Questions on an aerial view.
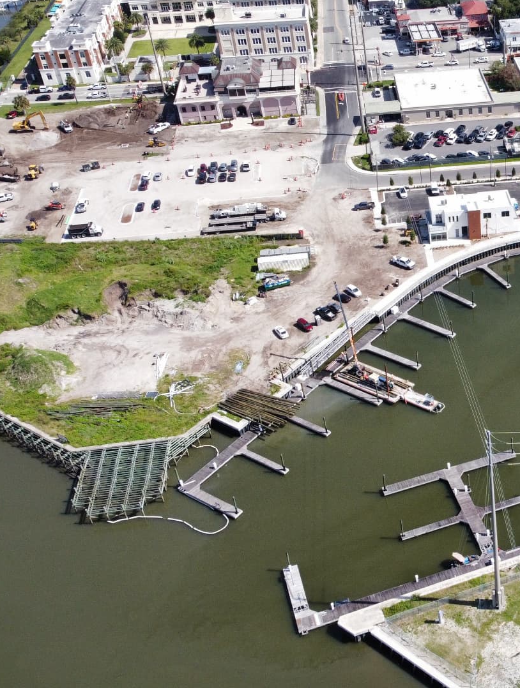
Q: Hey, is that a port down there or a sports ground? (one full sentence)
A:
The picture captures a port.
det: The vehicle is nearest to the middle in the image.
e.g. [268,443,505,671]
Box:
[272,322,290,337]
